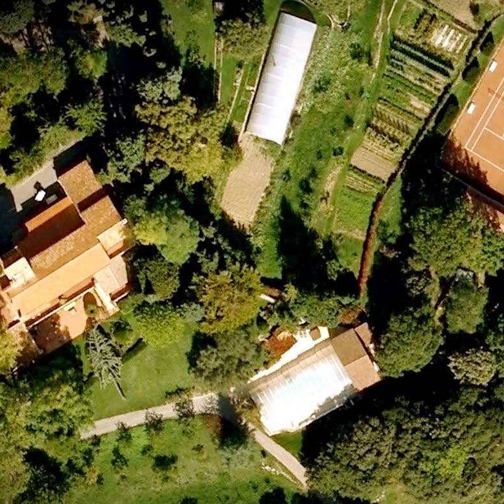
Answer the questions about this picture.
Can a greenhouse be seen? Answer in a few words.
Yes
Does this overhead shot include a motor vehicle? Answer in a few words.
No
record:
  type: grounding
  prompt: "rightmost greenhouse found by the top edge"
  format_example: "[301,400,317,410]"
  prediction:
[244,11,319,144]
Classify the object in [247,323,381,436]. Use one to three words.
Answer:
building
